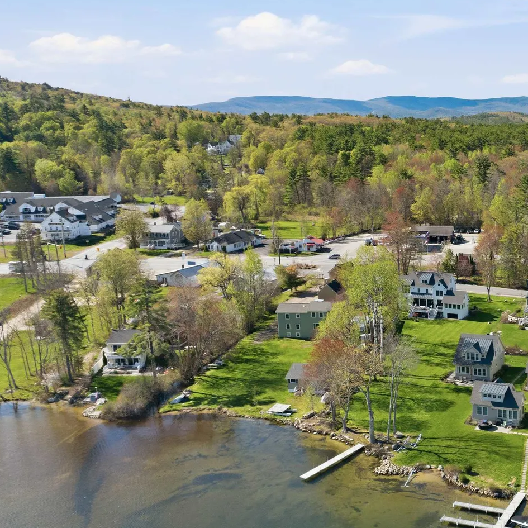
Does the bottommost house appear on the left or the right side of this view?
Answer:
right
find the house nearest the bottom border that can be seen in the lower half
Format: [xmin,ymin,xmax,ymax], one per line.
[470,380,528,425]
